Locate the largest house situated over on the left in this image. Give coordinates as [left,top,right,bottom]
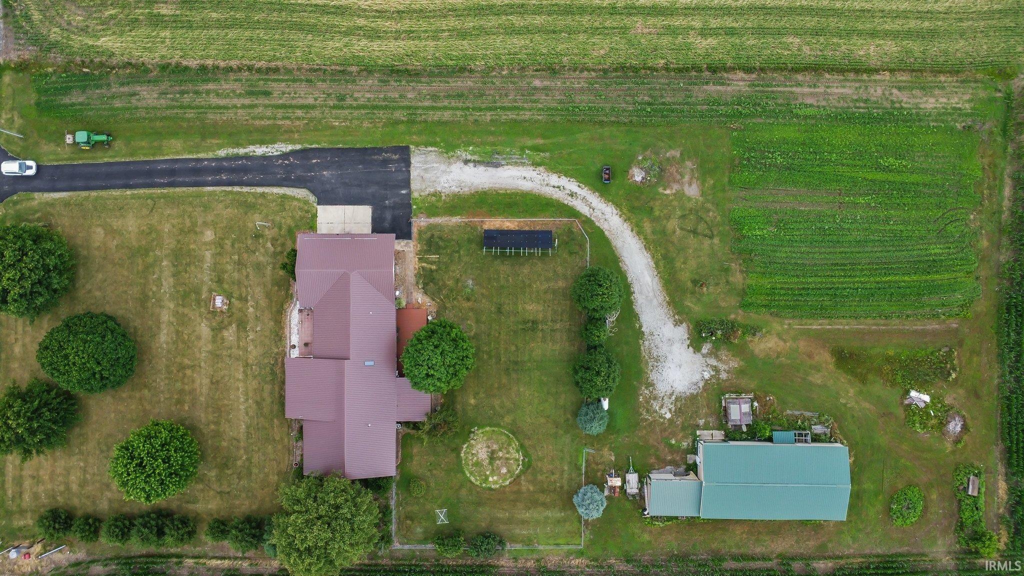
[284,234,433,480]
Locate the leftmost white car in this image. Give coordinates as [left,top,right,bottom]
[1,160,38,176]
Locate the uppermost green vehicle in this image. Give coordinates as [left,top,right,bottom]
[76,129,114,150]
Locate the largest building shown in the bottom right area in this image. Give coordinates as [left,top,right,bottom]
[694,438,853,521]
